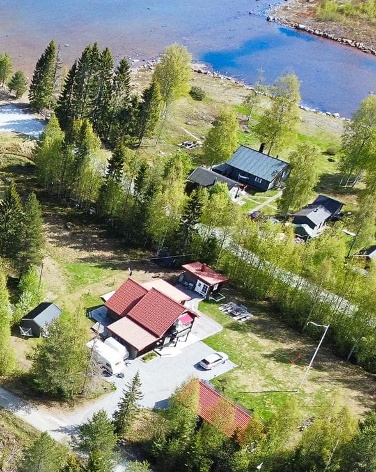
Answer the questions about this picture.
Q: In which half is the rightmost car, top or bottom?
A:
bottom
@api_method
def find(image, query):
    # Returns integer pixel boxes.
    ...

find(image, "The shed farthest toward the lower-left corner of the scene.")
[23,301,65,340]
